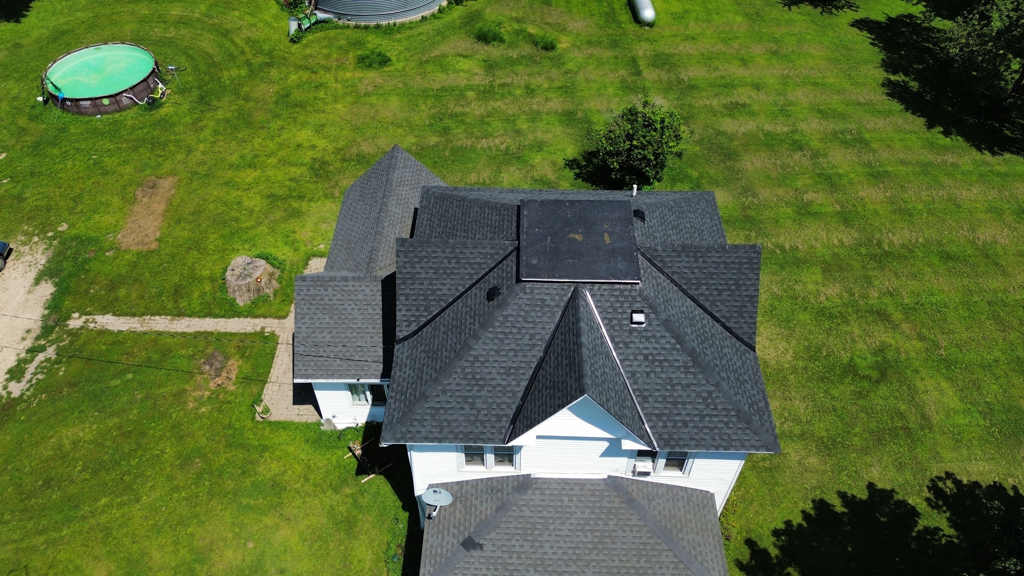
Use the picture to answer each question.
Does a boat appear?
No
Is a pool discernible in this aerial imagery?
Yes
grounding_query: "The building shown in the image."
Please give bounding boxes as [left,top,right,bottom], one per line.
[293,145,783,576]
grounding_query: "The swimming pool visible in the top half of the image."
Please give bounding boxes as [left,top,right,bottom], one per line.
[41,41,161,115]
